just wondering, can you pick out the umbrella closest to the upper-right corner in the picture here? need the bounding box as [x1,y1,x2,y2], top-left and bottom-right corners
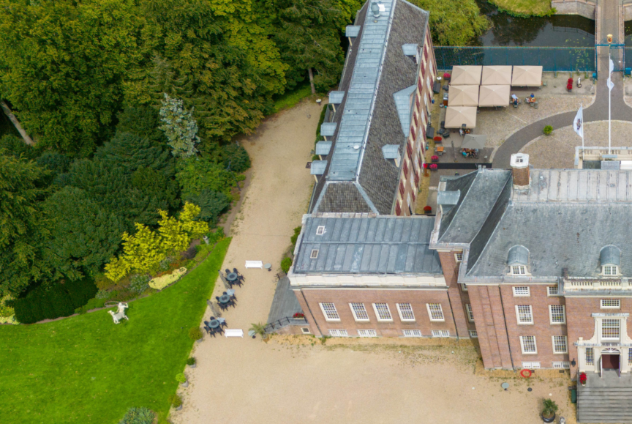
[511,66,542,93]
